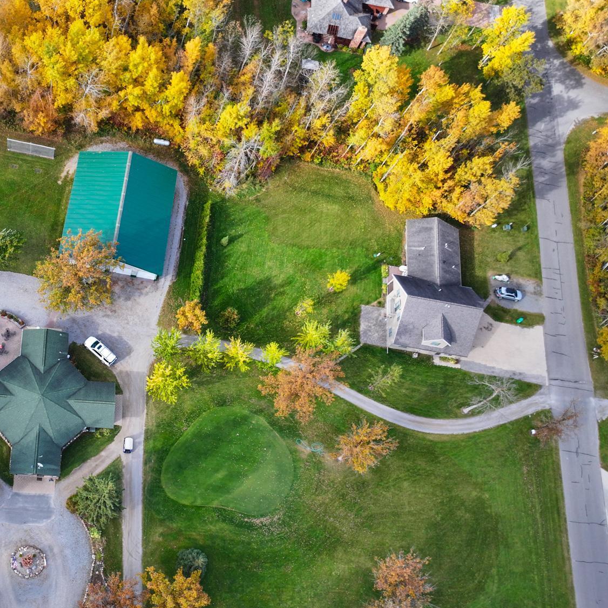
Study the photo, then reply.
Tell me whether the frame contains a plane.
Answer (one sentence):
No, I find no plane anywhere in the image.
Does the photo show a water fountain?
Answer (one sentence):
No, there's no water fountain here.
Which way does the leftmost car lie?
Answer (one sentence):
The leftmost car is oriented at an angle.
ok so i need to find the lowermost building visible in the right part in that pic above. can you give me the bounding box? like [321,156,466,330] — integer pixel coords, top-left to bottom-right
[382,218,483,360]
